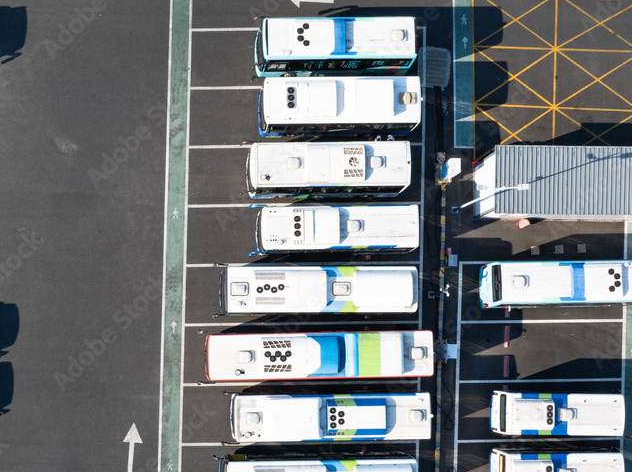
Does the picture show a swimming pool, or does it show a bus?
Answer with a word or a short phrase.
bus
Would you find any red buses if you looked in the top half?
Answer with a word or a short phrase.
No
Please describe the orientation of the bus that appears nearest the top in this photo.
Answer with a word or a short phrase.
from left to right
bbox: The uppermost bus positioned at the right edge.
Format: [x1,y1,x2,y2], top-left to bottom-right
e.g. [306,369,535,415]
[483,262,632,304]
